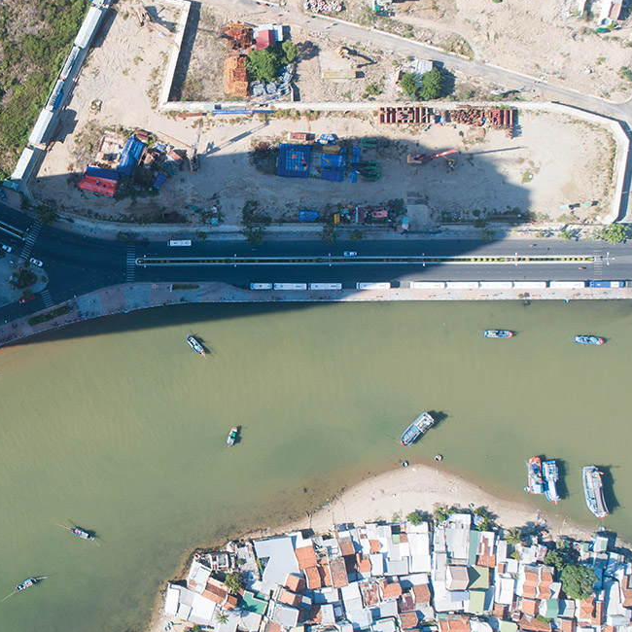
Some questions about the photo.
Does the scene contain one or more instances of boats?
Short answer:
Yes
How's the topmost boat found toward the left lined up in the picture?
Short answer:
diagonally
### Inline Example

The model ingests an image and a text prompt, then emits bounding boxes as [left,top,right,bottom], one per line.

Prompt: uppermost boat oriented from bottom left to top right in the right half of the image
[400,411,435,445]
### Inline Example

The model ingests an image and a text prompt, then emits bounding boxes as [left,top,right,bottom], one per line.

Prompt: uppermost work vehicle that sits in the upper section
[337,46,359,60]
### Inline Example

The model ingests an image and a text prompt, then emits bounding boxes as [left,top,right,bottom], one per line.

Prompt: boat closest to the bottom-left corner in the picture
[5,574,49,593]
